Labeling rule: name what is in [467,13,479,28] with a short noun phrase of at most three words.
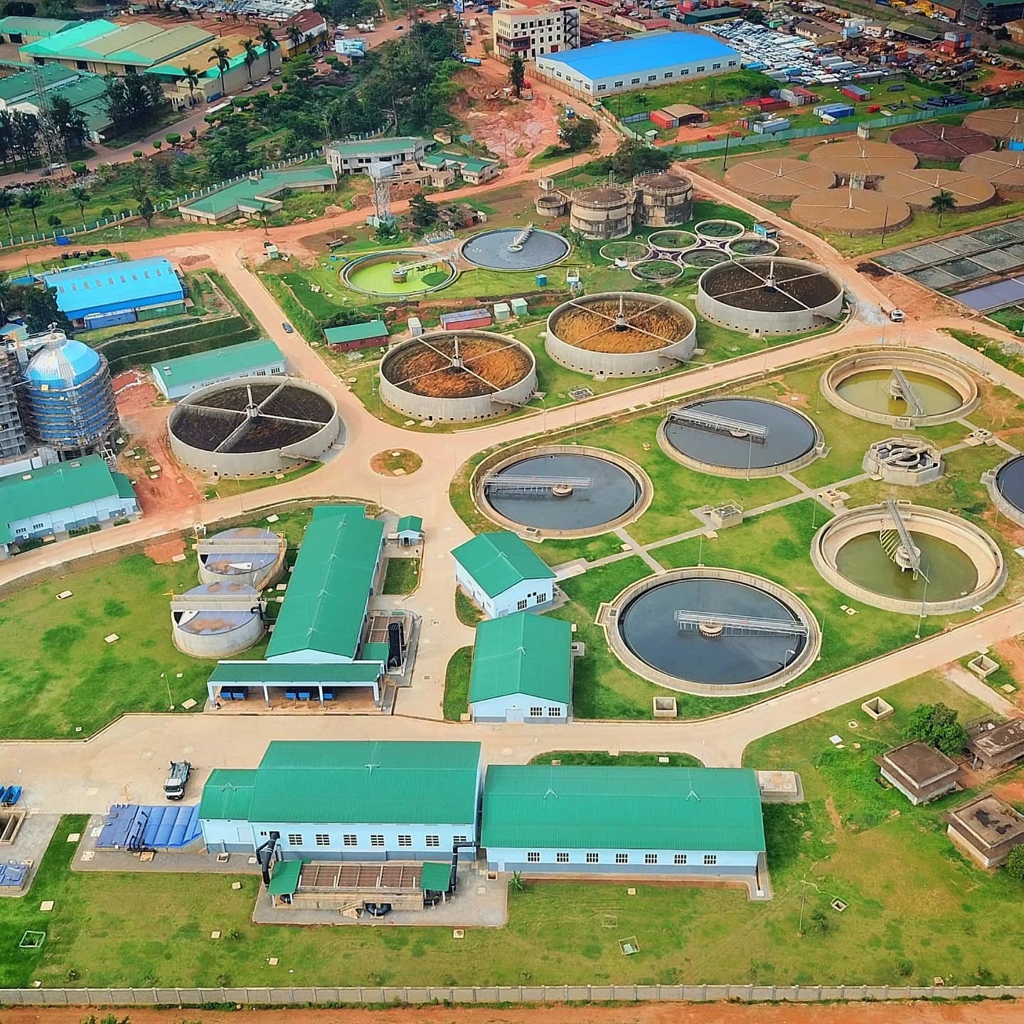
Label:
vehicle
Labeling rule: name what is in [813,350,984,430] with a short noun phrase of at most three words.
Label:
storage tank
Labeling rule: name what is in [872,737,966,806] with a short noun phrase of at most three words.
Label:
shed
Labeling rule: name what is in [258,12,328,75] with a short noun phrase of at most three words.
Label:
building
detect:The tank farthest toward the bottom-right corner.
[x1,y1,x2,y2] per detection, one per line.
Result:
[755,769,797,801]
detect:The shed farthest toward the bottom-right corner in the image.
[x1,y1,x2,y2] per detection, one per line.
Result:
[942,791,1024,872]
